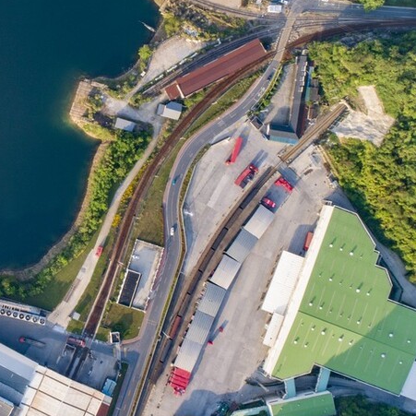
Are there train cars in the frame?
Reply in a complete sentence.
Yes, the picture does show a train car.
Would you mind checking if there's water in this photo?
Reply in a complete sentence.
Yes, there is water in the image.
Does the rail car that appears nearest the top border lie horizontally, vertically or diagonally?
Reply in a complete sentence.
In this picture, the rail car that appears nearest the top border is oriented diagonally.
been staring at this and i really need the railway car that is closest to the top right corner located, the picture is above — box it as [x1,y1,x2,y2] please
[254,172,274,194]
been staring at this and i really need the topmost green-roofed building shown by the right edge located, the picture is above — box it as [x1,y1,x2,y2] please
[265,204,416,397]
